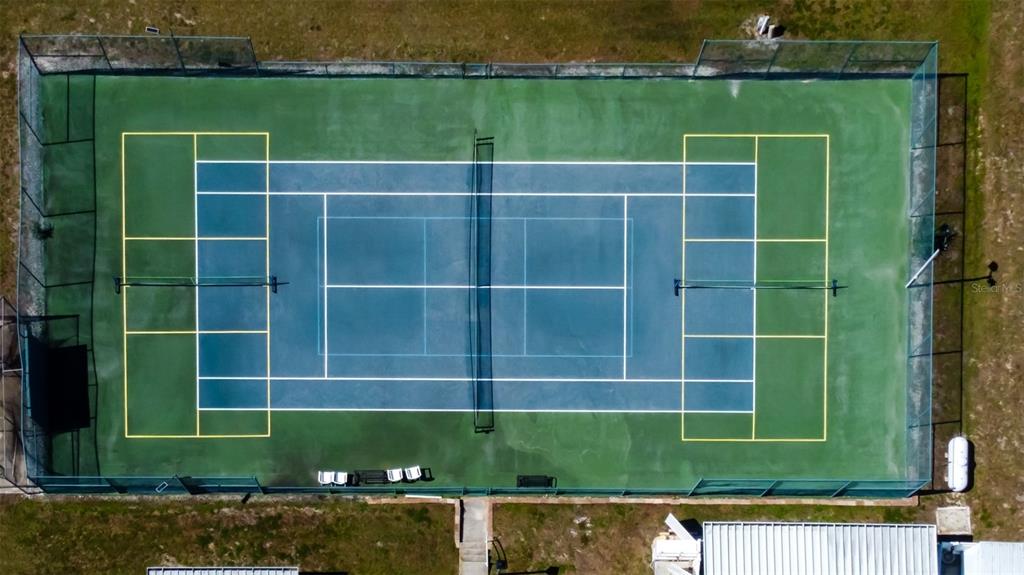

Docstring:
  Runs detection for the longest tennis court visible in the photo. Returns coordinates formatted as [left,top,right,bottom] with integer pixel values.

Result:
[40,77,913,495]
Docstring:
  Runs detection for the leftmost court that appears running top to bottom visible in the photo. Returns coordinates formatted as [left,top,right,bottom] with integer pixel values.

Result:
[123,132,271,437]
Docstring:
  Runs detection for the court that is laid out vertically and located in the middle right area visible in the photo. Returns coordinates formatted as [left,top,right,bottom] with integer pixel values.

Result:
[682,134,830,441]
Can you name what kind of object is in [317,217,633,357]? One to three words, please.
sports court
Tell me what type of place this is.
sports ground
